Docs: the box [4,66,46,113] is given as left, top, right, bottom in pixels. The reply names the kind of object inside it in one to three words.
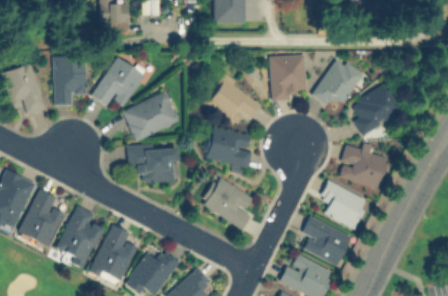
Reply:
house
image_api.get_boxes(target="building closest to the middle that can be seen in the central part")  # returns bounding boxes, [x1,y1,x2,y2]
[206,126,251,171]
